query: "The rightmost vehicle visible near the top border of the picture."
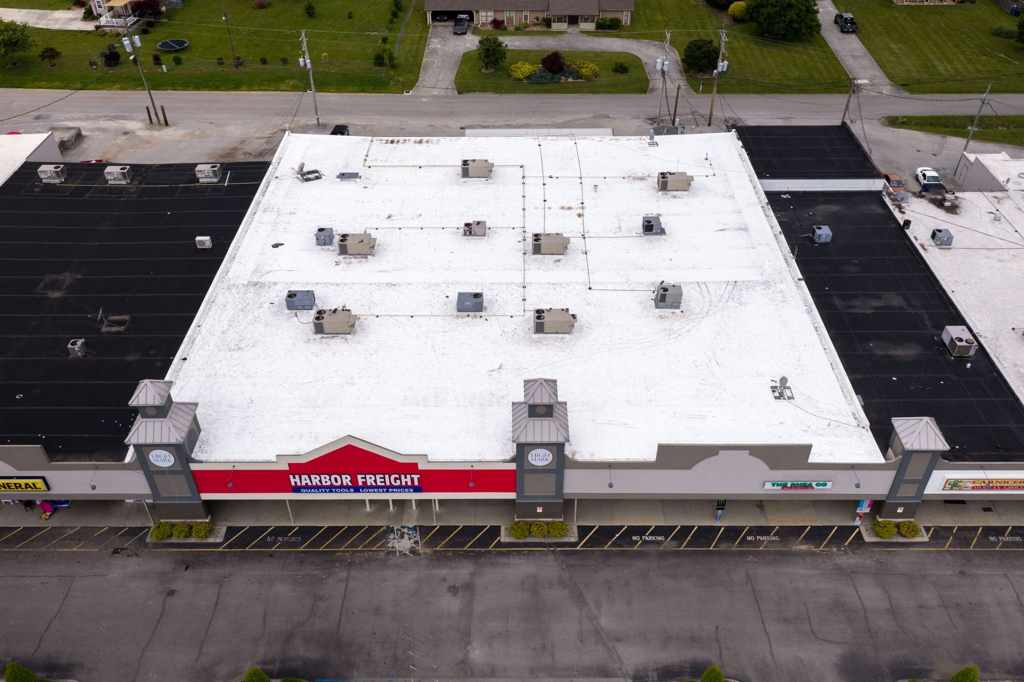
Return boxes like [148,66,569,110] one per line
[836,10,864,30]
